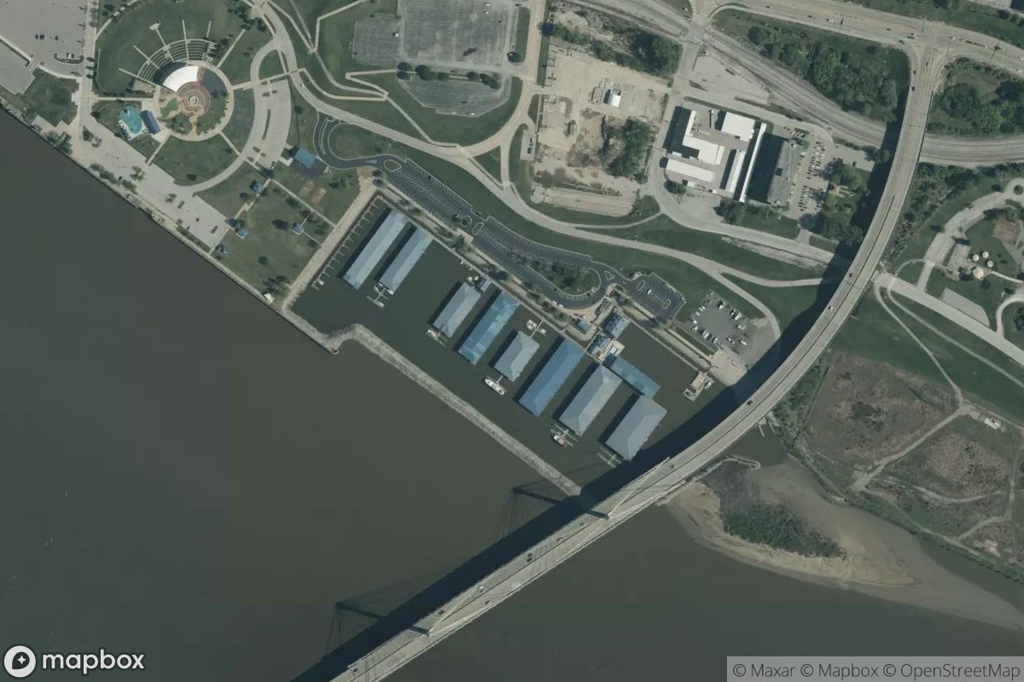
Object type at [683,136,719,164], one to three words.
building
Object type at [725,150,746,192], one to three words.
building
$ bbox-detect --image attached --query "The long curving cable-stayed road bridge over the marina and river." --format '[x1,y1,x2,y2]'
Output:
[331,45,952,682]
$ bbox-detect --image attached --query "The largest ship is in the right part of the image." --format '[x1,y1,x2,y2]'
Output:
[684,371,714,402]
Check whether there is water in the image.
Yes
